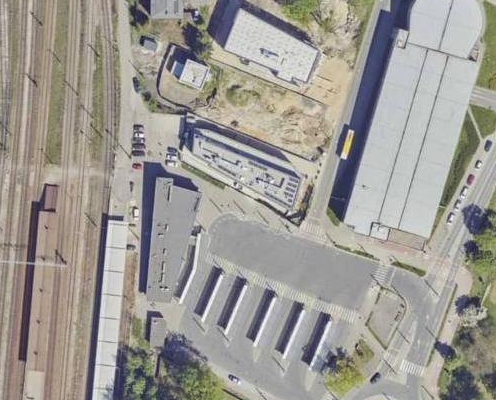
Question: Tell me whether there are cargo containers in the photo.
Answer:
No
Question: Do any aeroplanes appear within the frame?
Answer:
No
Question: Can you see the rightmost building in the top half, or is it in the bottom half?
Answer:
top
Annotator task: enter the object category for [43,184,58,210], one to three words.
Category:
house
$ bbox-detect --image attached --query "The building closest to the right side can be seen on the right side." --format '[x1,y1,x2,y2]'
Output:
[343,0,485,251]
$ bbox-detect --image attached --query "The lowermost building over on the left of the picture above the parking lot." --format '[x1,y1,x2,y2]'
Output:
[171,59,209,89]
